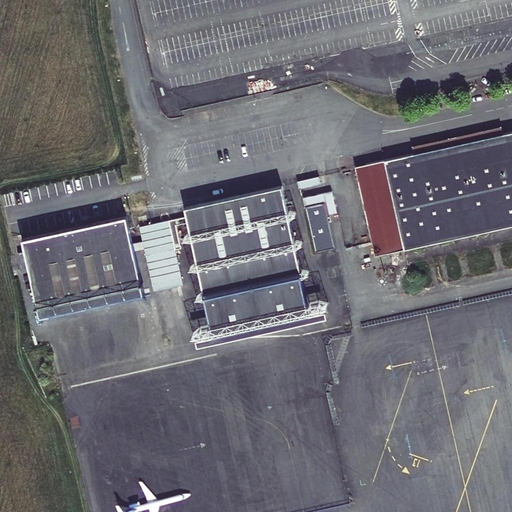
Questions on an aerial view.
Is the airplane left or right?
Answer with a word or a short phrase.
left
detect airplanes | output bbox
[116,481,191,512]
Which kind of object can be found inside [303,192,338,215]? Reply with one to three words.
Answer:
building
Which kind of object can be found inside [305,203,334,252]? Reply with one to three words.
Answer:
building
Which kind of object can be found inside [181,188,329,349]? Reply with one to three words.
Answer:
hangar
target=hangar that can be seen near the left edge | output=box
[16,218,147,322]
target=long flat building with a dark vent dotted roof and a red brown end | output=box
[356,128,512,256]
